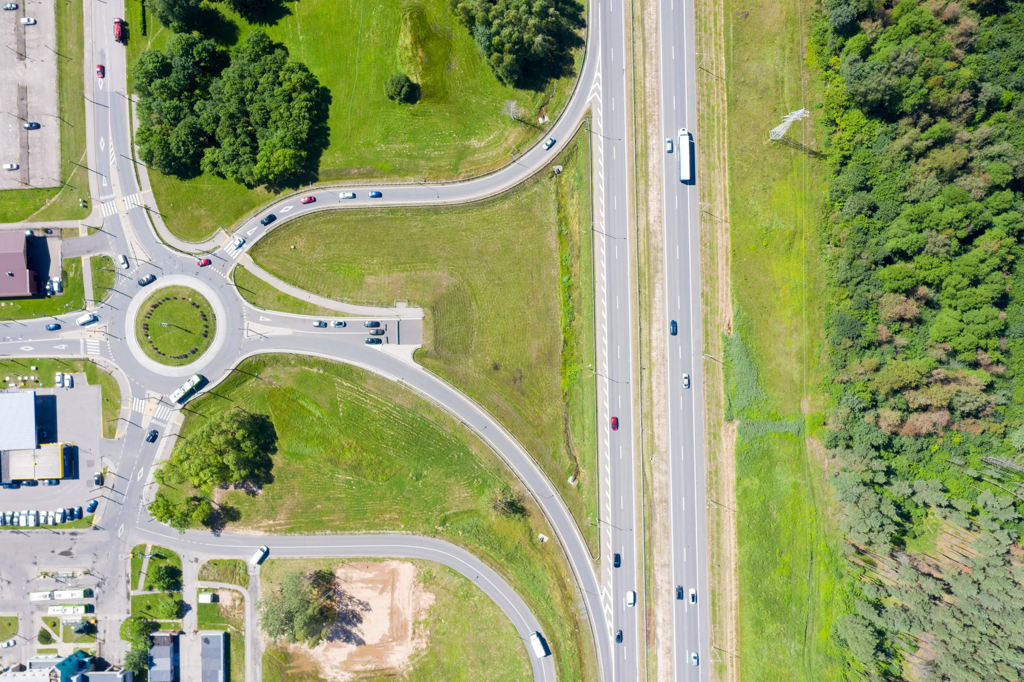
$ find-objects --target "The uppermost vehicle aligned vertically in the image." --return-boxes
[110,16,122,44]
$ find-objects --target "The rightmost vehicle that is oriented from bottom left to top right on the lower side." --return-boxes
[249,546,267,566]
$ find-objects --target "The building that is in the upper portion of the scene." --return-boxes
[0,230,47,295]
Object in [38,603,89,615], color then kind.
white vehicle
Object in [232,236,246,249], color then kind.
white vehicle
